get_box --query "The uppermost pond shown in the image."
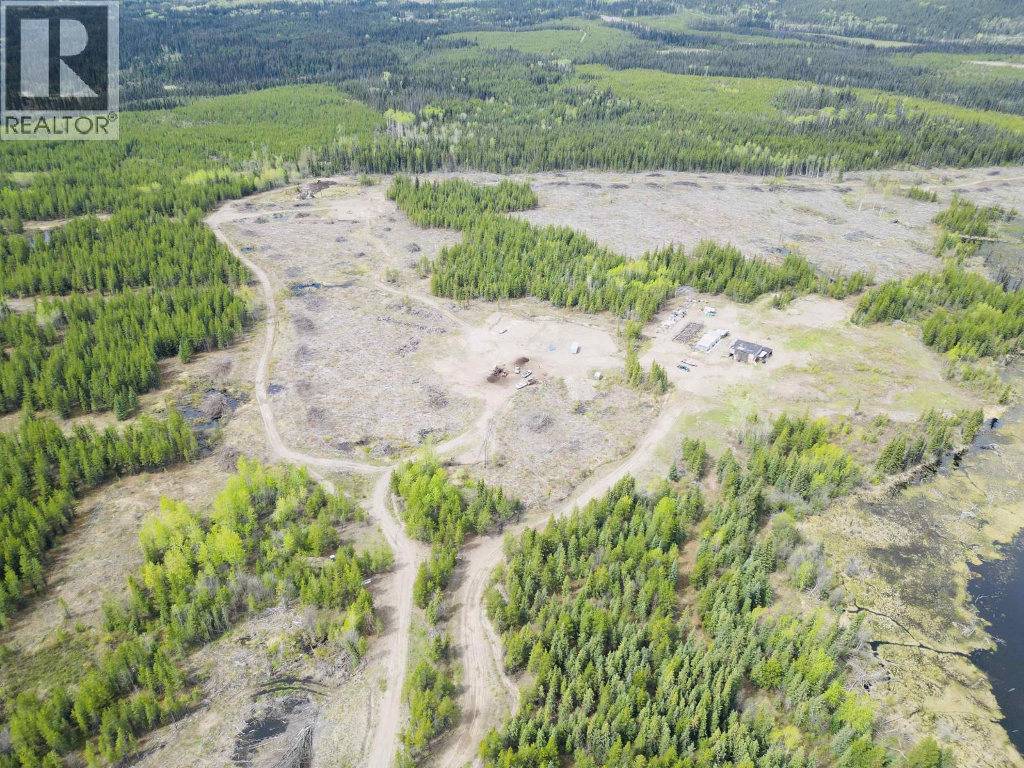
[961,221,1024,295]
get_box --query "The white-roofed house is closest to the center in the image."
[694,327,729,356]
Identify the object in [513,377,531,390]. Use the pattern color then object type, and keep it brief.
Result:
white vehicle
